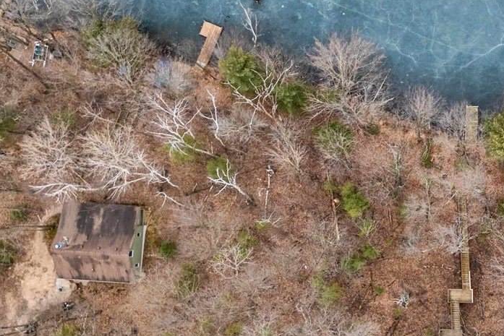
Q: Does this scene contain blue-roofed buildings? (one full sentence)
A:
No, I can't see a single blue-roofed building in this photo.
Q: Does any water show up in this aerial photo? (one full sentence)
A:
Yes, water shows up in the scene.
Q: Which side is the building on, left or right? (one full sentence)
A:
You can find the building on the left side of the picture.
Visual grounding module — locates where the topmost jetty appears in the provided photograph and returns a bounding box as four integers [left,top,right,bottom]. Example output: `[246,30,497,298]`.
[195,23,223,69]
